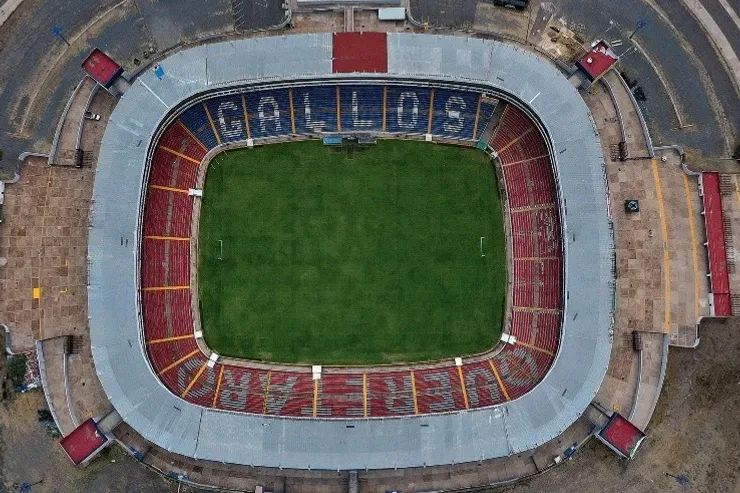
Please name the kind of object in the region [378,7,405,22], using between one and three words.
building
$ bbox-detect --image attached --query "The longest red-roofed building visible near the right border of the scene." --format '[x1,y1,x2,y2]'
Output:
[697,172,731,316]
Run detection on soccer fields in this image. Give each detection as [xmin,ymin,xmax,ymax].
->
[199,139,506,365]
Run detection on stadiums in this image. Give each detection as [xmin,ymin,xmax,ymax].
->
[85,30,618,473]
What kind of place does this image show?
sports ground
